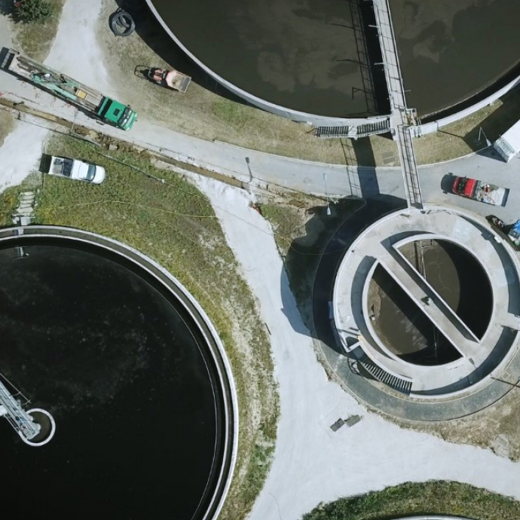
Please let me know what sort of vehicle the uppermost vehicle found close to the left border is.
truck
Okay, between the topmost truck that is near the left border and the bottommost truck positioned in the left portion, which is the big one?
the topmost truck that is near the left border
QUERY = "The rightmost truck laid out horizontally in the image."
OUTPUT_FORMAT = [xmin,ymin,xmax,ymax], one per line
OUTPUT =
[450,176,508,206]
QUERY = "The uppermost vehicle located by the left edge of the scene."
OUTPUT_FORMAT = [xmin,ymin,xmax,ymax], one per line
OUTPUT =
[1,48,140,133]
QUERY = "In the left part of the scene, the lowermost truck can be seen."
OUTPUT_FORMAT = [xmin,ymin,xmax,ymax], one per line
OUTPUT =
[47,155,109,184]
